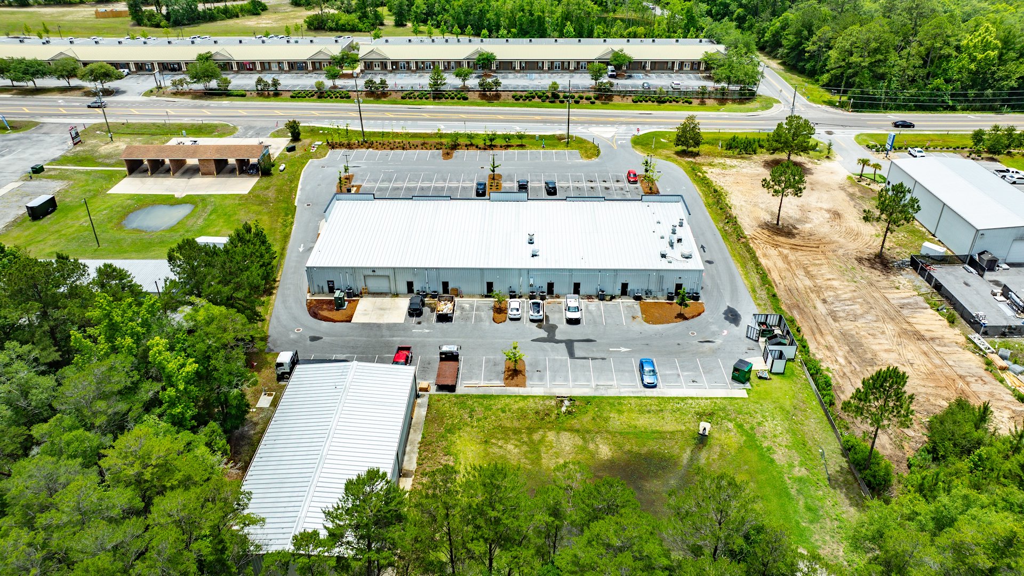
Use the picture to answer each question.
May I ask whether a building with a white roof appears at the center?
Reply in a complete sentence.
Yes, the scene does show a building with a white roof at the center.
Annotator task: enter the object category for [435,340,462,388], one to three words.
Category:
truck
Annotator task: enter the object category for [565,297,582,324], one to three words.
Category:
vehicle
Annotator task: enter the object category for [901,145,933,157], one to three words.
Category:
vehicle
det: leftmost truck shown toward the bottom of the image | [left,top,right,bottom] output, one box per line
[275,350,317,380]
